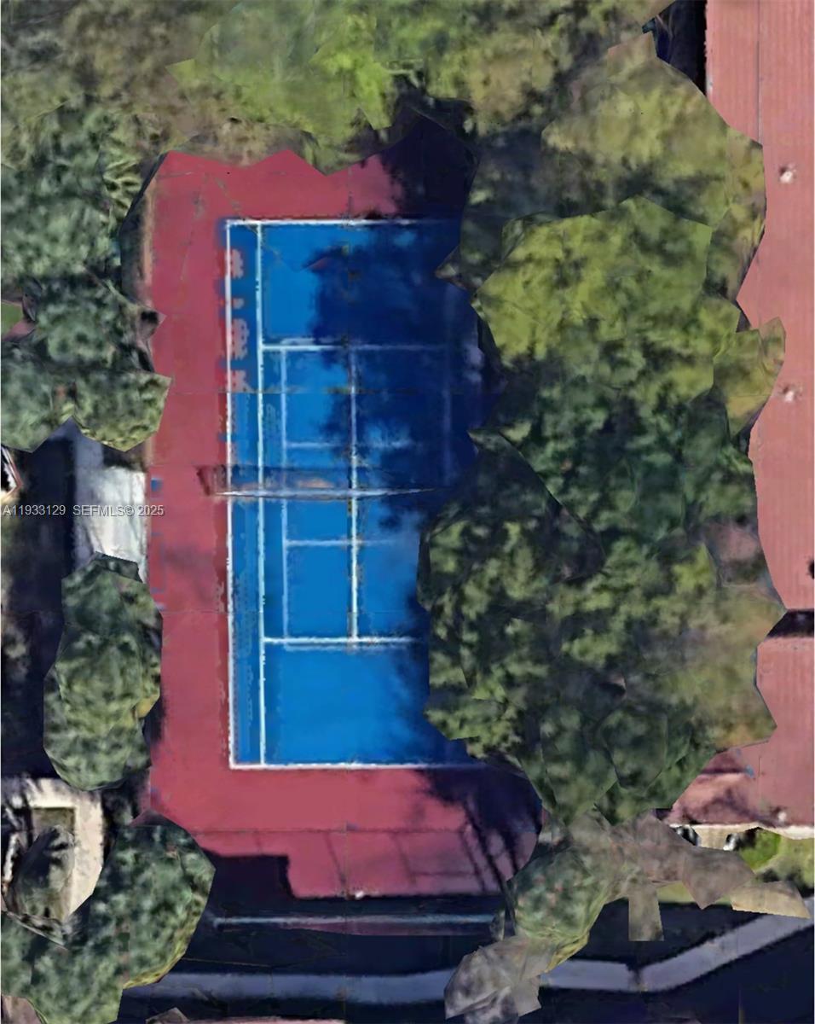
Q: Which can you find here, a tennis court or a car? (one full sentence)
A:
There is a tennis court in the scene.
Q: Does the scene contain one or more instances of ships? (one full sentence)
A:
No, there's no ship here.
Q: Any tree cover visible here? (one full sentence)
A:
Yes, there's tree cover in this view.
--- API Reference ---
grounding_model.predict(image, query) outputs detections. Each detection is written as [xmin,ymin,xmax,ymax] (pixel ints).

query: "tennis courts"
[149,101,560,937]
